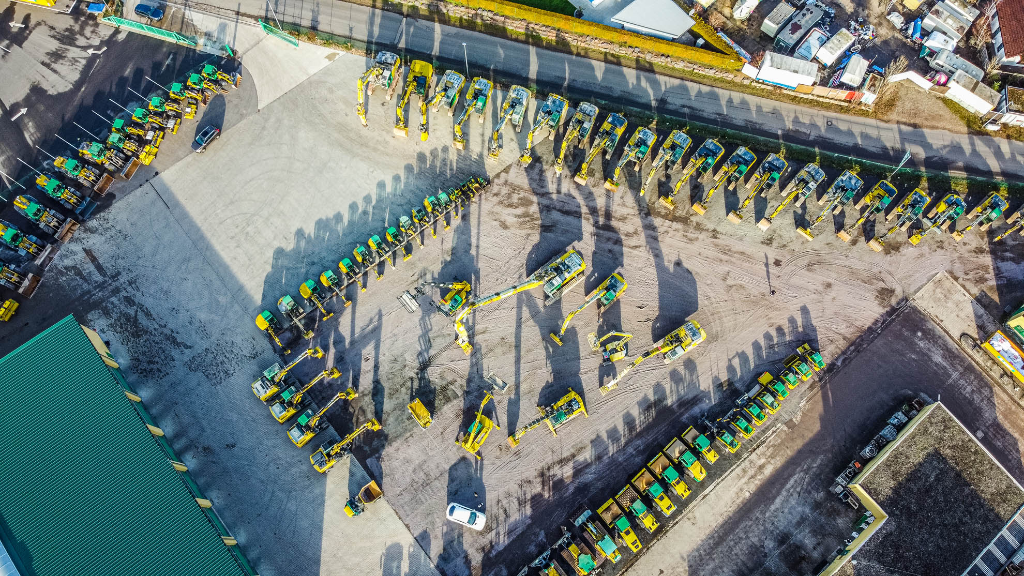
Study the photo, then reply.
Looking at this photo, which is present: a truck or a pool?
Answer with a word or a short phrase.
truck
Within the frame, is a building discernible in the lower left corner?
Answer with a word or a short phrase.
Yes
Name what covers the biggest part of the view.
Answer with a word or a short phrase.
paved ground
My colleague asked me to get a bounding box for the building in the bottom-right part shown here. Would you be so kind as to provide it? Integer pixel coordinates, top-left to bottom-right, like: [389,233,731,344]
[818,399,1024,576]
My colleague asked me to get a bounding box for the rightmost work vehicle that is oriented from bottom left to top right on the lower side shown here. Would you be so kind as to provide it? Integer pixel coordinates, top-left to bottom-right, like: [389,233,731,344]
[598,317,712,396]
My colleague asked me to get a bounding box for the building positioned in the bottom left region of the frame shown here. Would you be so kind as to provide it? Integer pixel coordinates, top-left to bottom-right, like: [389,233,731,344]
[0,312,273,576]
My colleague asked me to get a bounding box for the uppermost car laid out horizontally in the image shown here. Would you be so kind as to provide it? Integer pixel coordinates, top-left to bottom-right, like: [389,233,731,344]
[134,4,165,22]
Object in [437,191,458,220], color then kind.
green work vehicle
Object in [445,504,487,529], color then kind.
white car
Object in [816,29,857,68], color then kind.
white camper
